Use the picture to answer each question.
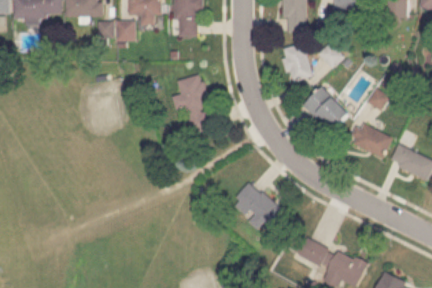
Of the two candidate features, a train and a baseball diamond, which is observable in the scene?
baseball diamond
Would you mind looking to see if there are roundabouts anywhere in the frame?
No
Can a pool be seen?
Yes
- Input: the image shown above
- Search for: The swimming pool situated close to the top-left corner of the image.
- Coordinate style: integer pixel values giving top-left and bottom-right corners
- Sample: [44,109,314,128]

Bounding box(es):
[22,32,40,49]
